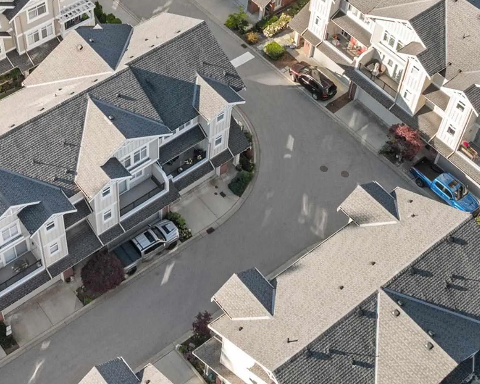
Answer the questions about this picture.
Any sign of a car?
Yes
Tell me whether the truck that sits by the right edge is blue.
Yes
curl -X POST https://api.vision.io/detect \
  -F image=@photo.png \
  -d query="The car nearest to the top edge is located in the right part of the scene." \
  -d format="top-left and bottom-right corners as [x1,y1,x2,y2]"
[290,65,340,100]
